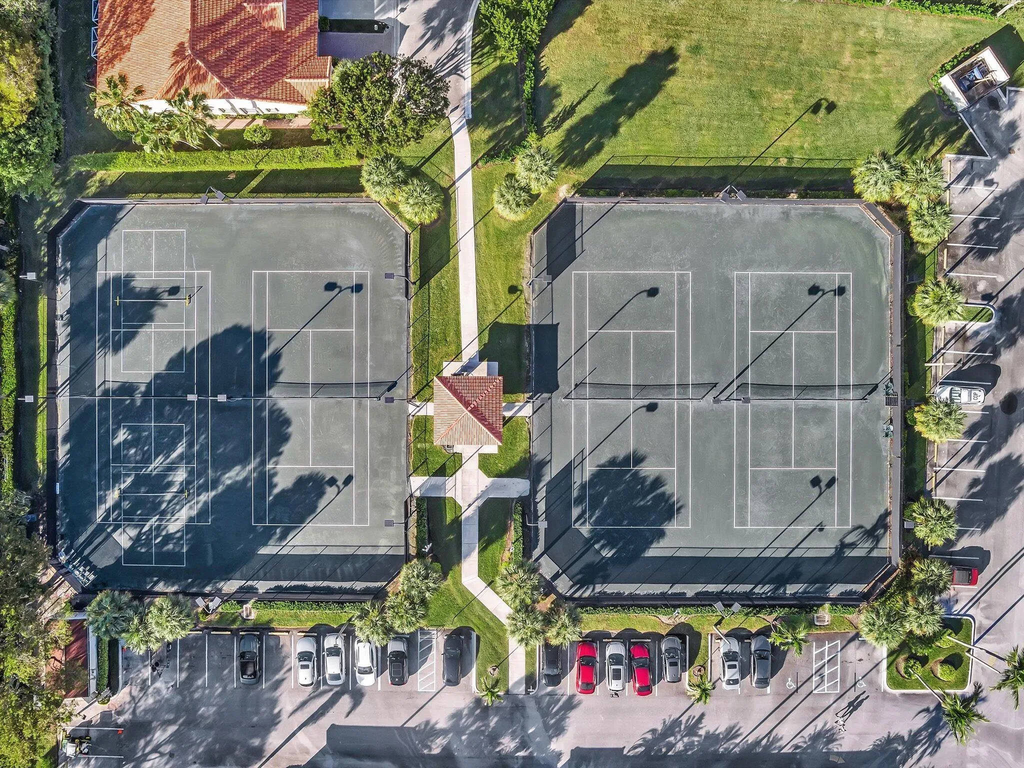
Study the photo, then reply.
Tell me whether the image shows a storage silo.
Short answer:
No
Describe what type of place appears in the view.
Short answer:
sports ground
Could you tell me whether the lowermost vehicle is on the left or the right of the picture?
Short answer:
left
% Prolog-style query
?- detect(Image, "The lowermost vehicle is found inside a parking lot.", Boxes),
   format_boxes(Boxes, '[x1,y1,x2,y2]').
[60,731,93,754]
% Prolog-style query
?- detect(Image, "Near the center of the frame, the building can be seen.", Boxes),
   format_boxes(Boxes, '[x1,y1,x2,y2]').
[433,376,503,446]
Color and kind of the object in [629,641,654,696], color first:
red car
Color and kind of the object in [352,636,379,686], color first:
white car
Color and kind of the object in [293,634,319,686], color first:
white car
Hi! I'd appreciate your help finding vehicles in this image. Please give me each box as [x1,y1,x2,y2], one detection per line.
[540,632,565,686]
[718,635,743,689]
[352,636,379,686]
[603,640,629,692]
[659,634,685,682]
[574,640,600,694]
[942,564,977,589]
[60,731,93,754]
[321,631,348,684]
[236,630,262,684]
[629,641,654,696]
[440,632,464,685]
[932,382,984,406]
[384,635,411,685]
[293,634,319,686]
[748,633,774,688]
